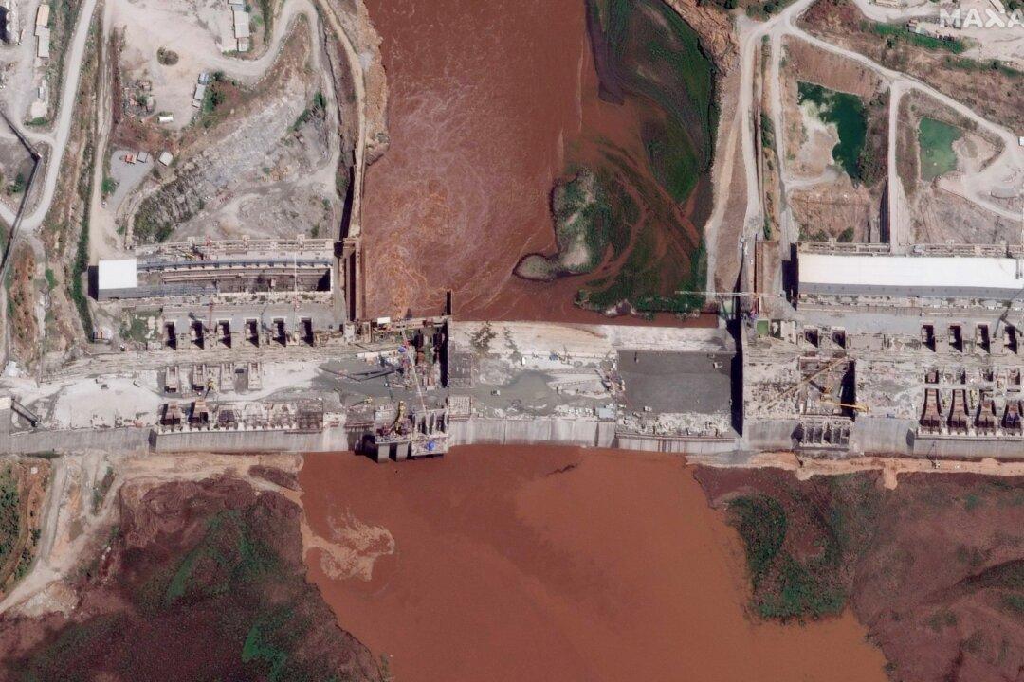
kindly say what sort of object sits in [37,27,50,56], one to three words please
shed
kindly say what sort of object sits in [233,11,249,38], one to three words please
shed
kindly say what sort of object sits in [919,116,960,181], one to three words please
pond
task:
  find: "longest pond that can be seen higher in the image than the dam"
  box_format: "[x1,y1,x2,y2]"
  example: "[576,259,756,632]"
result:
[796,79,868,181]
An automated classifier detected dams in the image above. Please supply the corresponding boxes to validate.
[0,311,1024,460]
